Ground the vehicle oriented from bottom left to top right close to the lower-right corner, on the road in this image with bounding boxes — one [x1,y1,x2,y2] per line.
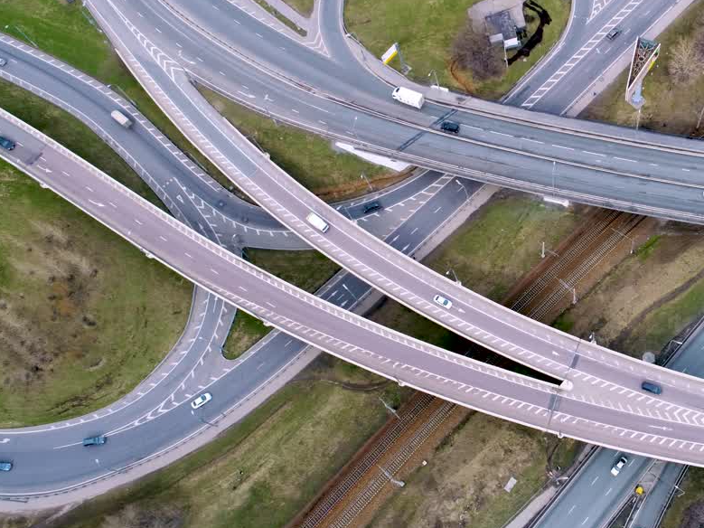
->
[609,455,629,477]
